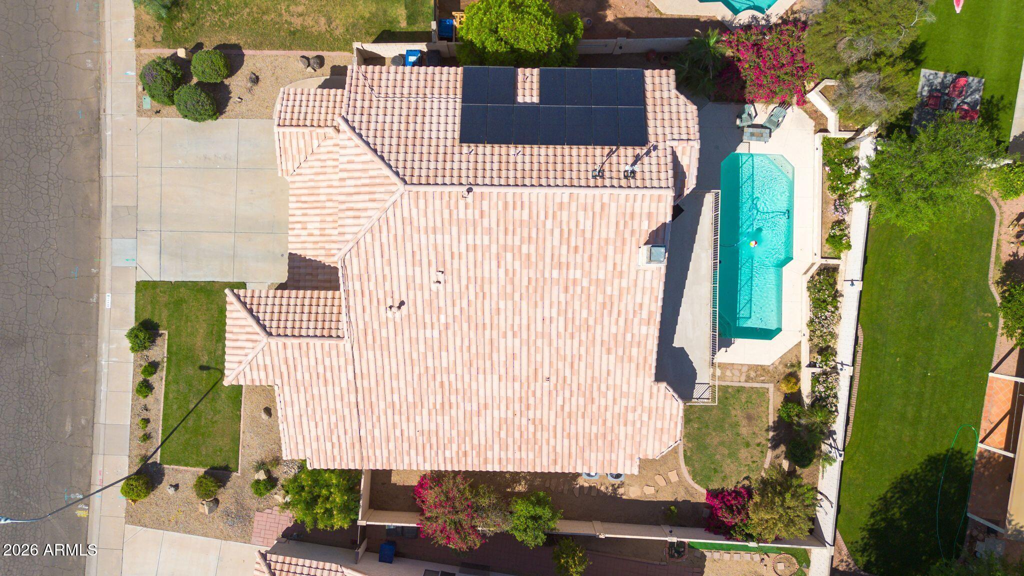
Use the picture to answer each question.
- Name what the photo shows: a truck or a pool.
pool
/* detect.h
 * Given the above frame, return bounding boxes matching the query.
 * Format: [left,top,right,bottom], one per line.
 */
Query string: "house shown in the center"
[221,65,721,475]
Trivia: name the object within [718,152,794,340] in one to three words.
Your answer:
swimming pool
